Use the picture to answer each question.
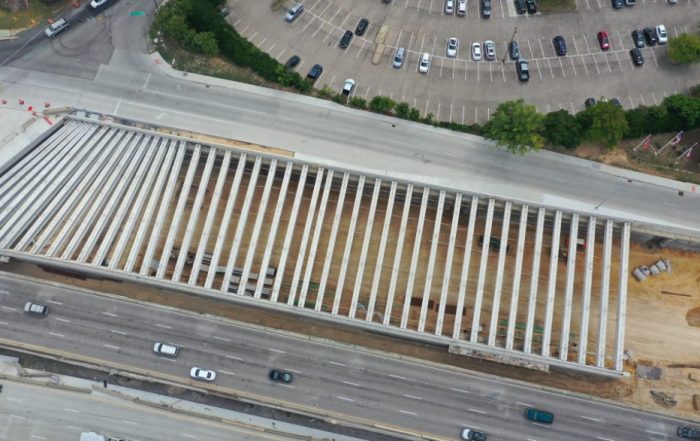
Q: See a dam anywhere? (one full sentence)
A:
No, the picture doesn't show any dam.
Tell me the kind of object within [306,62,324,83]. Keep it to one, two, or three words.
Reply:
car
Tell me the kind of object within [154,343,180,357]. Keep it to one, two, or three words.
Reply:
vehicle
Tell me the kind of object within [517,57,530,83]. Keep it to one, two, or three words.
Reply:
vehicle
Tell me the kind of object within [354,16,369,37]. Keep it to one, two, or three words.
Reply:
car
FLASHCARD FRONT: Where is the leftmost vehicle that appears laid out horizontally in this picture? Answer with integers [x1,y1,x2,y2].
[25,302,49,316]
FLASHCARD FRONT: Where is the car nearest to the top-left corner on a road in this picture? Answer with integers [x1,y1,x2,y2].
[47,18,68,36]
